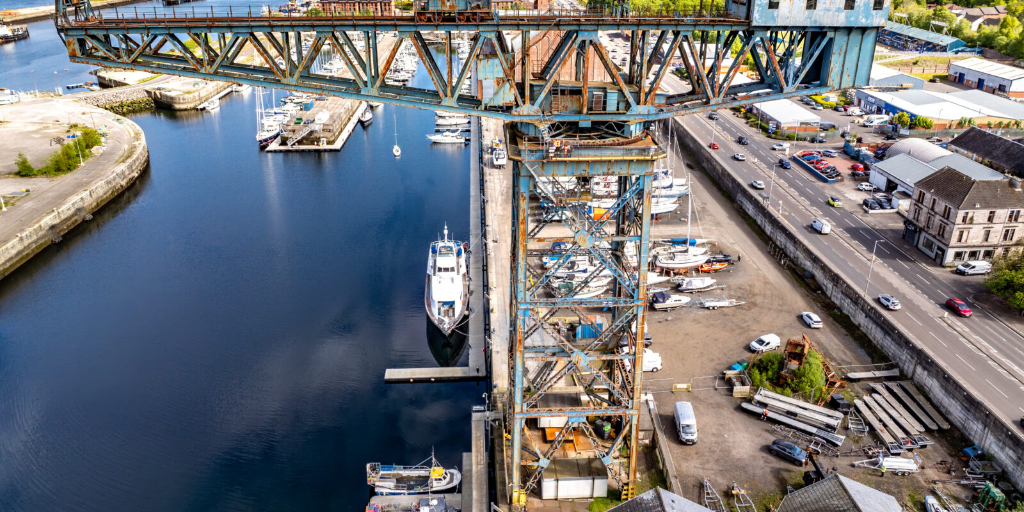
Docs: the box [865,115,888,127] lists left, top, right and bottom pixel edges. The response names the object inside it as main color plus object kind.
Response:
white vehicle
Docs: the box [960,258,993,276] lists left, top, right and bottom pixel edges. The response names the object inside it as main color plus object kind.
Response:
white vehicle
